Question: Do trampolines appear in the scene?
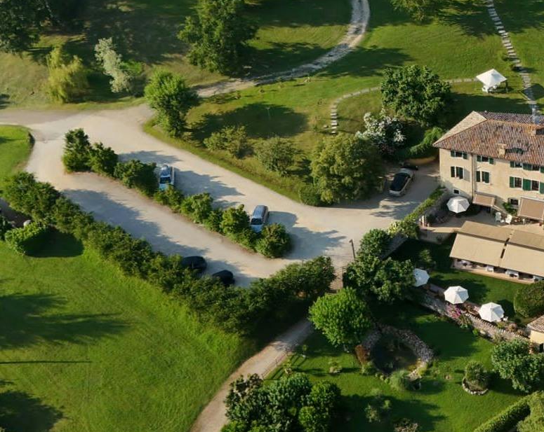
No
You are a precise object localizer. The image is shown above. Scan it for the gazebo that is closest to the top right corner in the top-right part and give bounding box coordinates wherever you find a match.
[476,69,505,97]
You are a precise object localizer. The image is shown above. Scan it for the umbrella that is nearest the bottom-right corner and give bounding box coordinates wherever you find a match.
[476,295,503,320]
